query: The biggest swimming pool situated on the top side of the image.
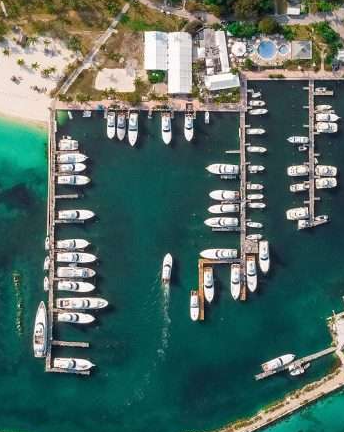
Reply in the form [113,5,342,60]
[256,39,277,60]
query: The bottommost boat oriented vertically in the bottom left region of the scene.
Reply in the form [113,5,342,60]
[32,302,46,358]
